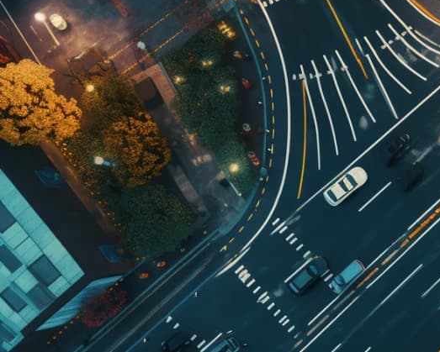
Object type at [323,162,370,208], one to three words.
car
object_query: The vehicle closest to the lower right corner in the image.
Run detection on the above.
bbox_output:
[326,257,367,297]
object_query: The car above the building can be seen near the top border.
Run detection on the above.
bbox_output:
[47,11,72,33]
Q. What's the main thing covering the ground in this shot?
paved ground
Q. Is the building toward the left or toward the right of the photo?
left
